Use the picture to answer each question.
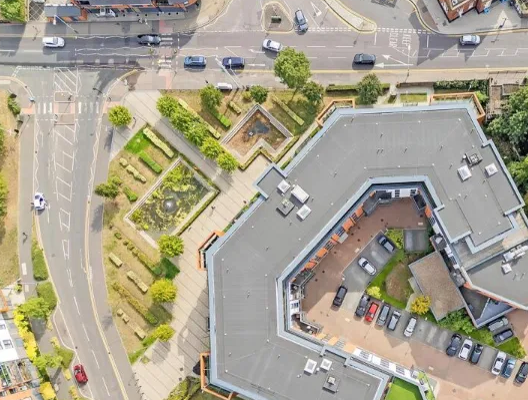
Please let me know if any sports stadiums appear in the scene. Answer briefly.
No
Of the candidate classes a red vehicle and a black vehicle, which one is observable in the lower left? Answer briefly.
red vehicle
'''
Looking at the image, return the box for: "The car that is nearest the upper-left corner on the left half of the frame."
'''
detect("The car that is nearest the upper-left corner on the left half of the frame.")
[42,35,64,48]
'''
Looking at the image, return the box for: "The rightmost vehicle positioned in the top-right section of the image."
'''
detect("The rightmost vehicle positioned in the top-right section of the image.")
[459,34,480,46]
